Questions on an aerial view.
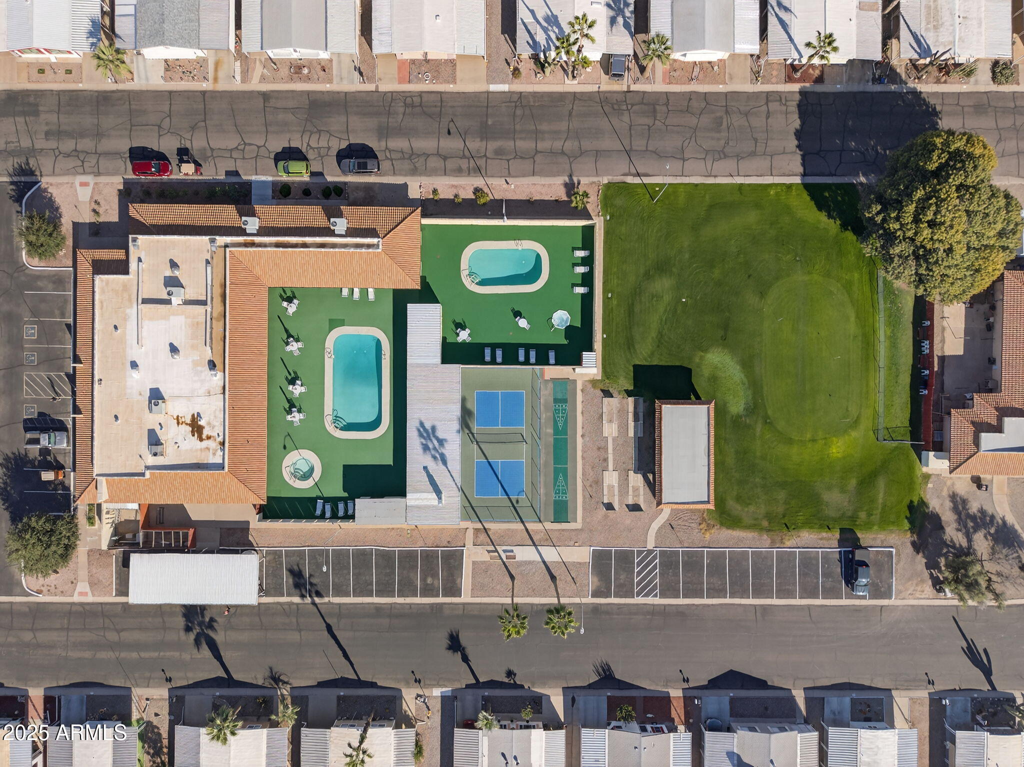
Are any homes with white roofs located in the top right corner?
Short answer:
Yes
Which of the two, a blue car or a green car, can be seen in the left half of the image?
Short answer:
green car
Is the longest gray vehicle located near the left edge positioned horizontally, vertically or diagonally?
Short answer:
horizontally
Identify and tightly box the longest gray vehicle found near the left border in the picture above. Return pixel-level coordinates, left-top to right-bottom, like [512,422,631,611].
[20,430,67,450]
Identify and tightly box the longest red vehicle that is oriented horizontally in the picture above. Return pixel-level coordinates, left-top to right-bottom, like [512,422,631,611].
[129,158,170,177]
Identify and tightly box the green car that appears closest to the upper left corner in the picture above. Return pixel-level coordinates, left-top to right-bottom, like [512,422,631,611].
[276,158,309,176]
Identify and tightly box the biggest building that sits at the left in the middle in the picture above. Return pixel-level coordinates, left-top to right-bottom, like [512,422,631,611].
[72,203,421,506]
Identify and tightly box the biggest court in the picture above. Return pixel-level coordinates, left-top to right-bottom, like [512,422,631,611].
[461,368,540,523]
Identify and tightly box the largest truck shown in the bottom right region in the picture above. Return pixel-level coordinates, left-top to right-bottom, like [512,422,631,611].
[853,549,877,597]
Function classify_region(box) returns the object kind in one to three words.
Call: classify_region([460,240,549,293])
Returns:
swimming pool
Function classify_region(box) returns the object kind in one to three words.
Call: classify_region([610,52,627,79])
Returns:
vehicle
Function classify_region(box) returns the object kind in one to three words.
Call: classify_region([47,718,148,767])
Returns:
house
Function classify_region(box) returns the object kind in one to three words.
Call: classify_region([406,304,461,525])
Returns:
building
